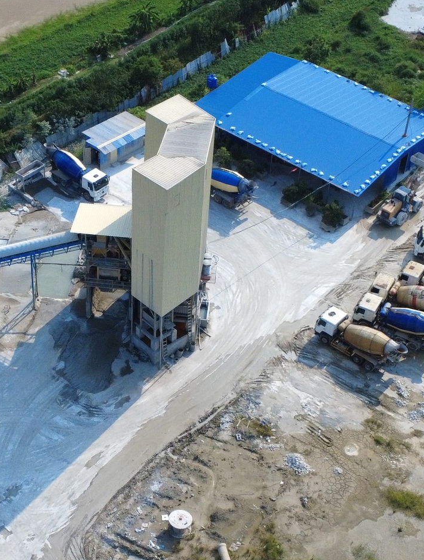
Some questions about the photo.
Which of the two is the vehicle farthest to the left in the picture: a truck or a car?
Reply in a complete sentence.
The vehicle farthest to the left is a truck.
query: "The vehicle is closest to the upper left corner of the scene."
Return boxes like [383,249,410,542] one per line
[41,143,114,203]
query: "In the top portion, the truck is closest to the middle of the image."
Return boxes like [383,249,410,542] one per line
[210,171,260,208]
